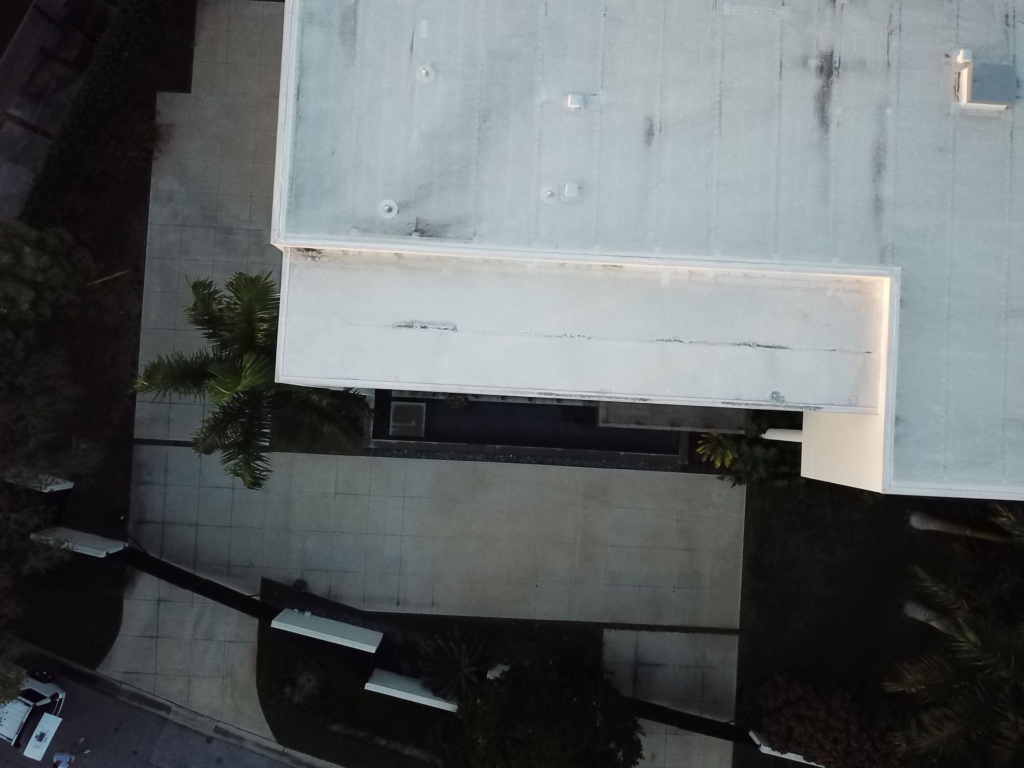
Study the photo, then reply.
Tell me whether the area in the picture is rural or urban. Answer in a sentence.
The area is urban.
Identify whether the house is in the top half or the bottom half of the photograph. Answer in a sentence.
You can find the house in the top half.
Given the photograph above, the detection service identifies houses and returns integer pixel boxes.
[271,0,1024,500]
